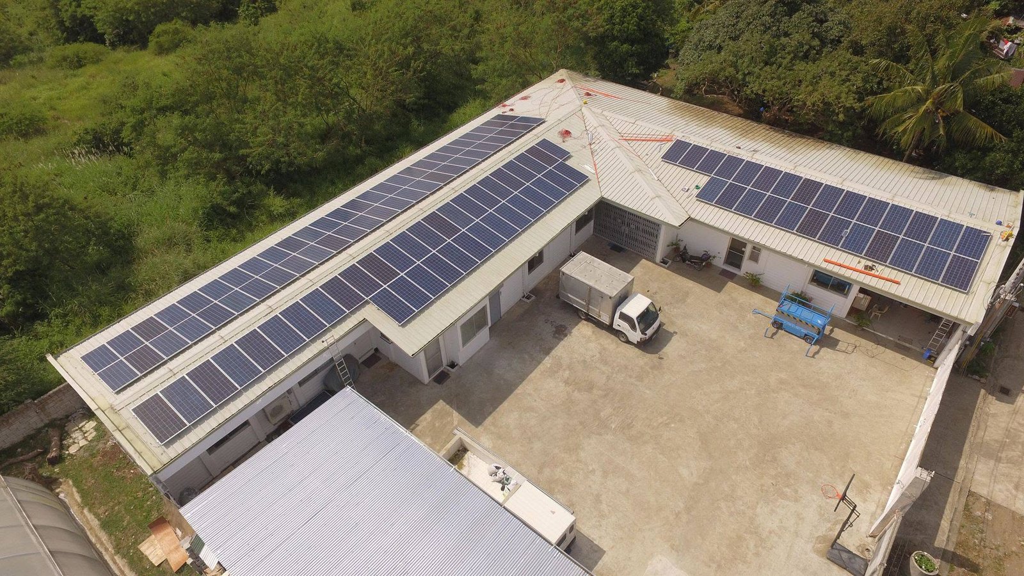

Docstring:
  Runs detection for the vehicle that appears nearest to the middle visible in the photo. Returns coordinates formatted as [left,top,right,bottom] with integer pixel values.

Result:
[558,252,664,348]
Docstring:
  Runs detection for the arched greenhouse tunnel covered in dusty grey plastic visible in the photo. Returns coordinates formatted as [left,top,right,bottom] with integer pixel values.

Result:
[0,478,110,576]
